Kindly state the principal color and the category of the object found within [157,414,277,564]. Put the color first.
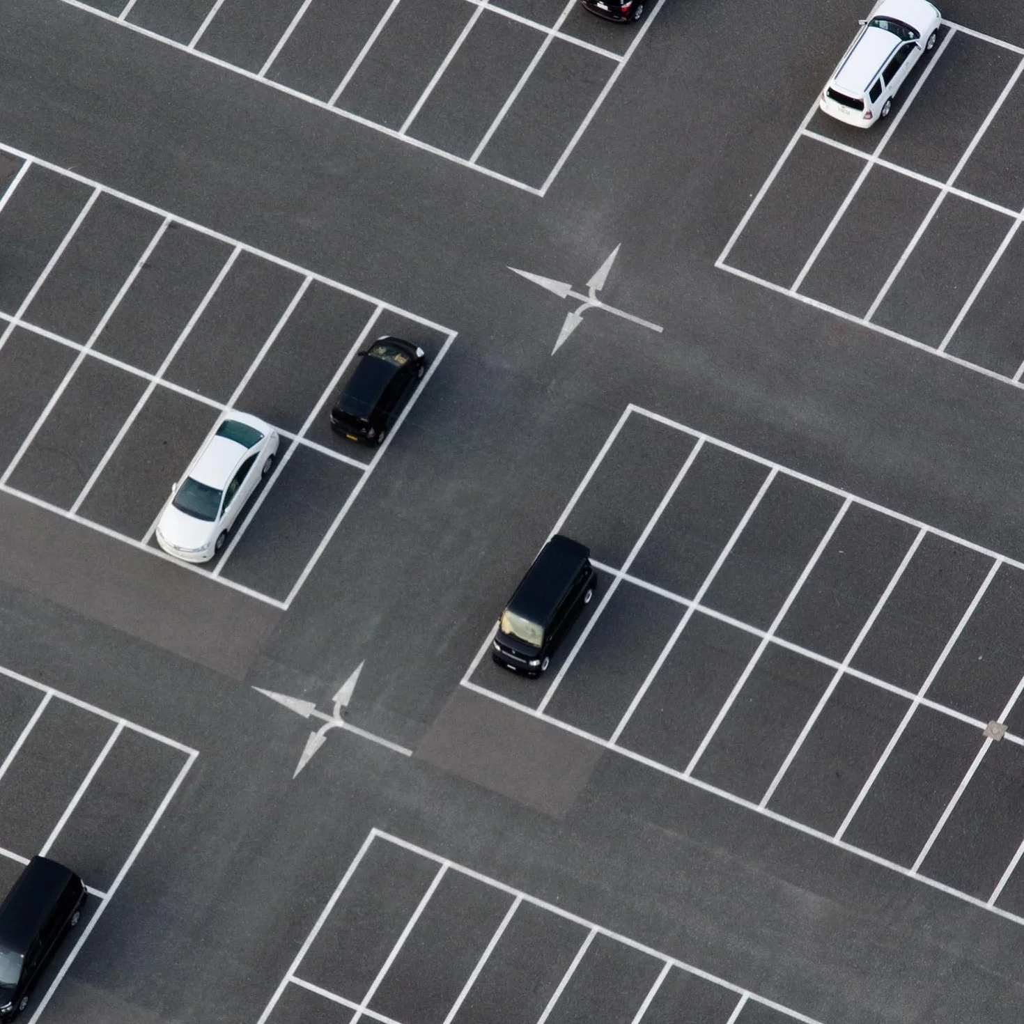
white car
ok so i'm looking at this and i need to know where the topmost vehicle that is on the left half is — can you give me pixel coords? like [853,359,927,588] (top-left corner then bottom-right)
[331,338,427,448]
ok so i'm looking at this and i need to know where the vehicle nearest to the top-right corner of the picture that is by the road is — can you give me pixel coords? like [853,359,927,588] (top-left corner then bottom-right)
[822,0,936,130]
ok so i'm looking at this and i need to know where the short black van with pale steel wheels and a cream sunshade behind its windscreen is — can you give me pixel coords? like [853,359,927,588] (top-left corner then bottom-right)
[492,533,599,680]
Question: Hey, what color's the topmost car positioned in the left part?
black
